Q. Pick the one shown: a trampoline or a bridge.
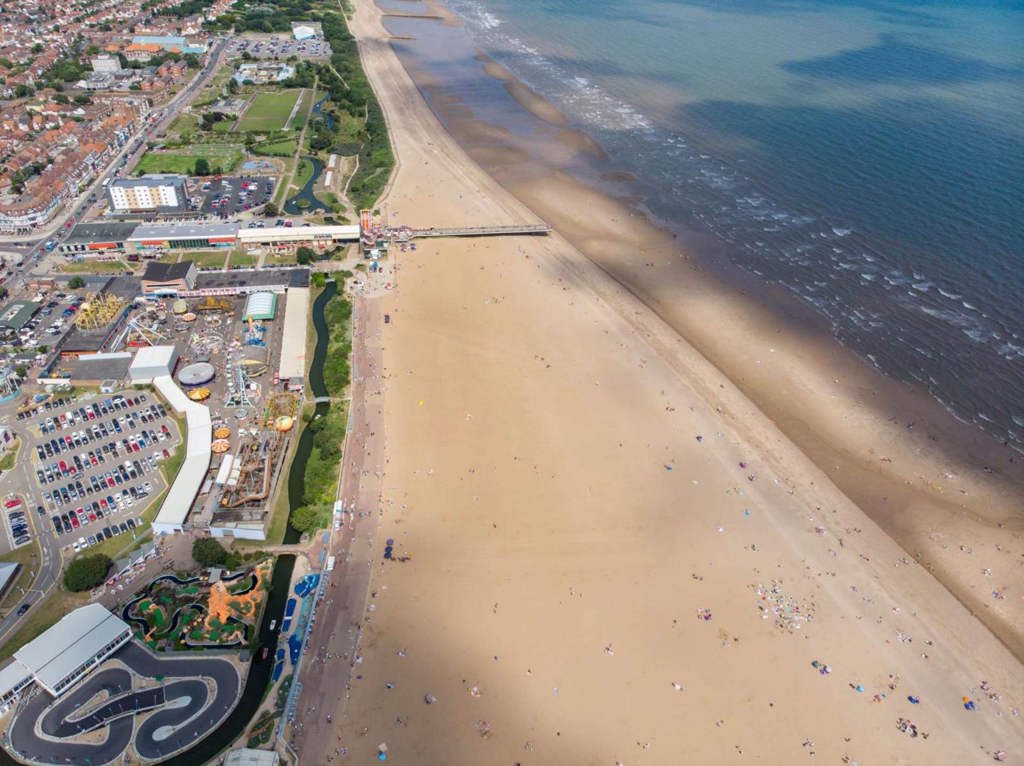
bridge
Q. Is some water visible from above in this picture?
Yes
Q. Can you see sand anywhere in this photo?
Yes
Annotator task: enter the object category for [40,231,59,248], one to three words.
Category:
vehicle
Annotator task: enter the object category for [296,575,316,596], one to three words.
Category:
swimming pool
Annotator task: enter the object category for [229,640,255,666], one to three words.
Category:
shed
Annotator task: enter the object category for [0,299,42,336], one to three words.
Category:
building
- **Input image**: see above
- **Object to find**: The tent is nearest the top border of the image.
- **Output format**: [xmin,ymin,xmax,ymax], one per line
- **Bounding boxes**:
[292,23,315,39]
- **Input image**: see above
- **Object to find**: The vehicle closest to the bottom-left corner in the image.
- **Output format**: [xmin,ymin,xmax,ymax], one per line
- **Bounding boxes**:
[15,601,32,616]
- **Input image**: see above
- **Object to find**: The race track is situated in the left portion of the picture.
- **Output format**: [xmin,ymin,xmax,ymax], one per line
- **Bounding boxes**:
[10,643,239,766]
